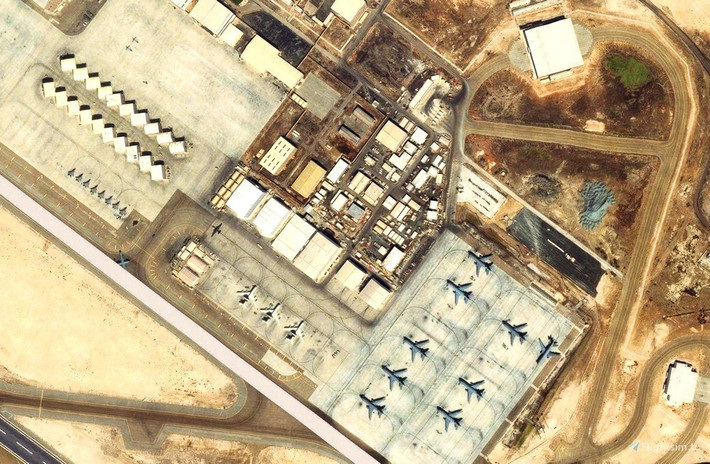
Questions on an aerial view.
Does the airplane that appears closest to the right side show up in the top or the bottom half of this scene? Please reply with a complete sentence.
The airplane that appears closest to the right side is in the bottom half of the image.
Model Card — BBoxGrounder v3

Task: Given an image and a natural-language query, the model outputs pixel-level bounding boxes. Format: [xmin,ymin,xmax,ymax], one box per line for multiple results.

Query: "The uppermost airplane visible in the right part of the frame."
[469,252,494,276]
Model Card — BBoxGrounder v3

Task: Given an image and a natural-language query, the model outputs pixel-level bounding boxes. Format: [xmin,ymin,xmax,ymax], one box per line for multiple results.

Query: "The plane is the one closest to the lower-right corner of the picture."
[537,336,561,363]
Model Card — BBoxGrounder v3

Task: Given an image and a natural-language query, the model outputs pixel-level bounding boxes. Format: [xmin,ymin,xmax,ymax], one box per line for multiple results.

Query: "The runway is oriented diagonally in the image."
[0,175,386,464]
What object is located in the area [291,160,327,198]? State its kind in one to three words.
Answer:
building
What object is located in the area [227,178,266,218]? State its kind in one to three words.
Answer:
hangar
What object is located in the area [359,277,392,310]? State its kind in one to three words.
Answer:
hangar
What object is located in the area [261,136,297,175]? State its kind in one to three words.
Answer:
building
